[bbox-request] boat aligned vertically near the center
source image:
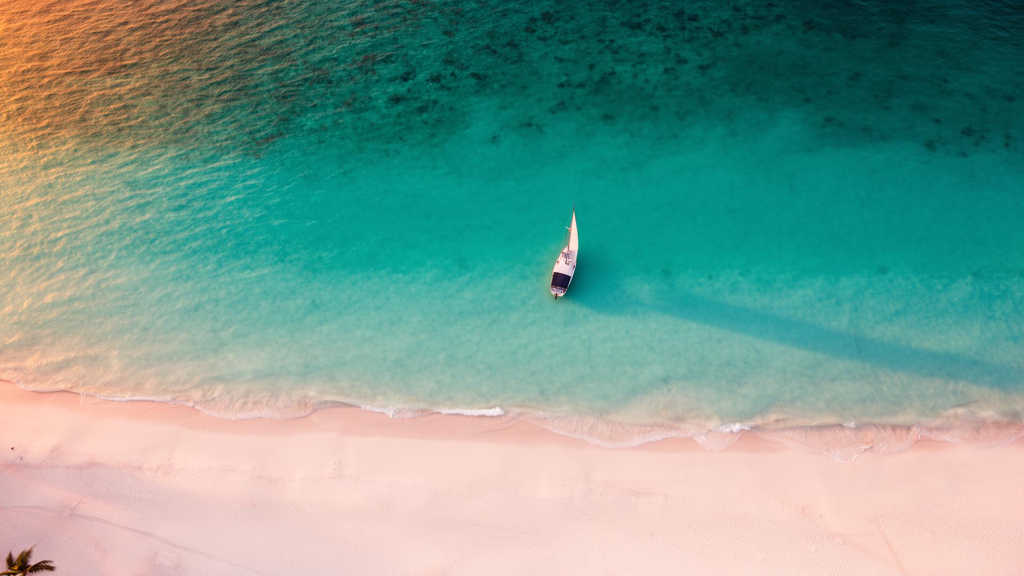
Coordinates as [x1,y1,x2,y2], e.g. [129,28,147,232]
[551,204,577,302]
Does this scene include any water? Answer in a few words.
Yes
